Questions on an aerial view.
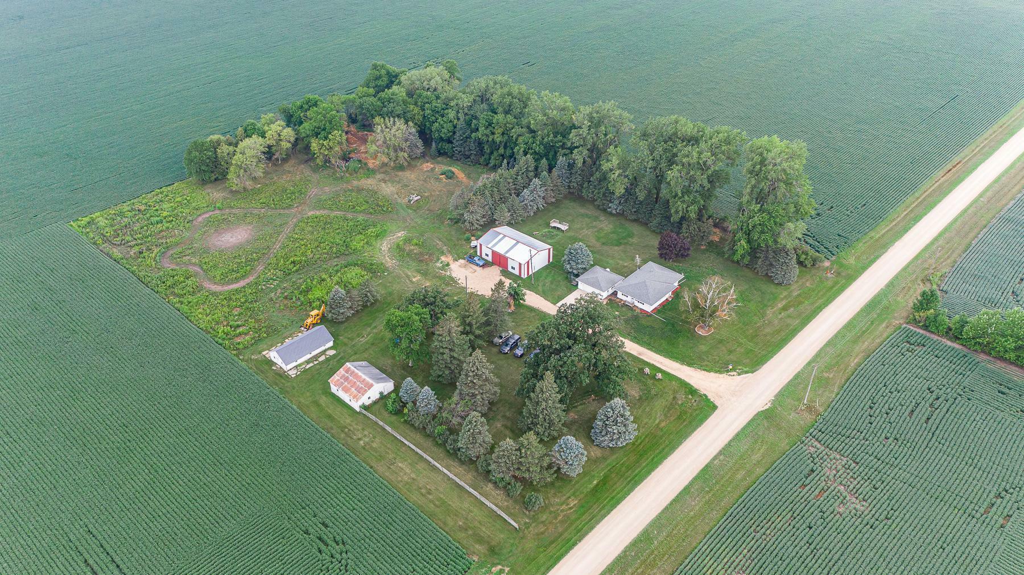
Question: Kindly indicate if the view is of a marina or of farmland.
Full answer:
The picture captures farmland.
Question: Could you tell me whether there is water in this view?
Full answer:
No, there is no water in the image.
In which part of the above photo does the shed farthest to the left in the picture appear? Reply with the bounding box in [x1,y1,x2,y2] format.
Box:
[267,326,334,370]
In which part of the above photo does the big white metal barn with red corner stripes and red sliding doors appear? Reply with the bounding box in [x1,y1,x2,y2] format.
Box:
[475,225,554,278]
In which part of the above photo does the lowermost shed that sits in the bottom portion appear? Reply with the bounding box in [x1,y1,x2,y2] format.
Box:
[328,359,394,410]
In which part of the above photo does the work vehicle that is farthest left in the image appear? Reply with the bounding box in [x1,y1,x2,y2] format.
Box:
[297,304,325,332]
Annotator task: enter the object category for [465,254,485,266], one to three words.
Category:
vehicle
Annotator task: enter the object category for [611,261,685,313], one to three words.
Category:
house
